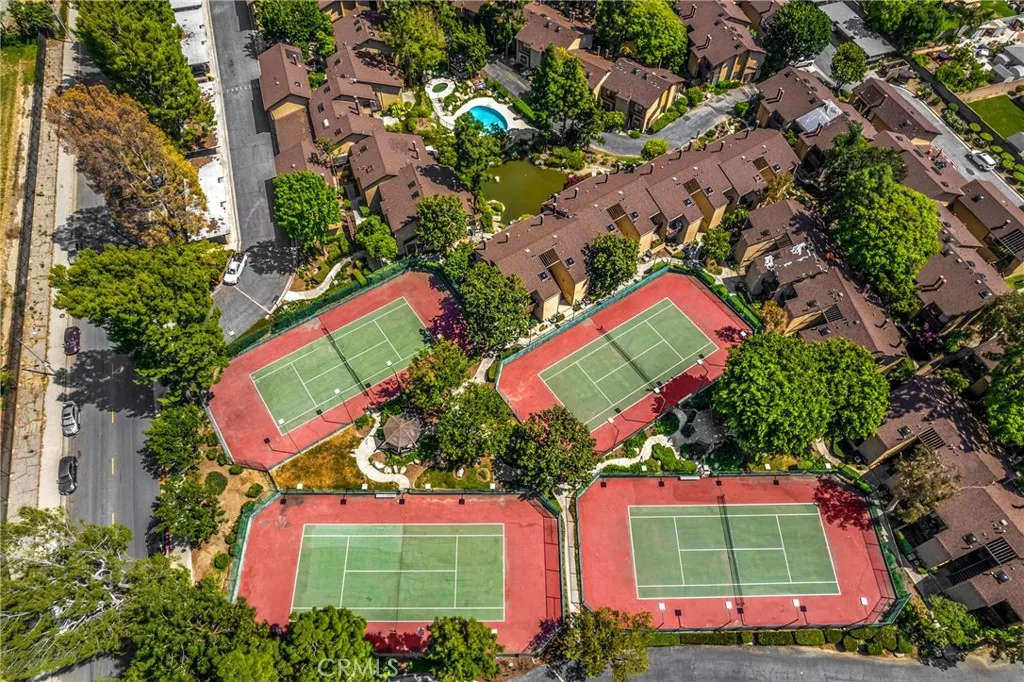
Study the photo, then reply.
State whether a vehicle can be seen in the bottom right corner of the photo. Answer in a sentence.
No, the scene shows no vehicle in the bottom right corner of the photo.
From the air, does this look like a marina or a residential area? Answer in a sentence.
The picture captures a residential area.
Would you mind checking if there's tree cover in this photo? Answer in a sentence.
Yes, the picture does contain tree cover.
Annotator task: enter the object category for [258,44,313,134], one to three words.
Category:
house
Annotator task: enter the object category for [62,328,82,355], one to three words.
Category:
car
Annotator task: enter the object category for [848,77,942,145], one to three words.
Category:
house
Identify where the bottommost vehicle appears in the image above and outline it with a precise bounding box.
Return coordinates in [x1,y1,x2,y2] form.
[56,456,79,495]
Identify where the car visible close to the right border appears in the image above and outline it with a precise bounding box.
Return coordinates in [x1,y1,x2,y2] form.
[970,149,1000,169]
